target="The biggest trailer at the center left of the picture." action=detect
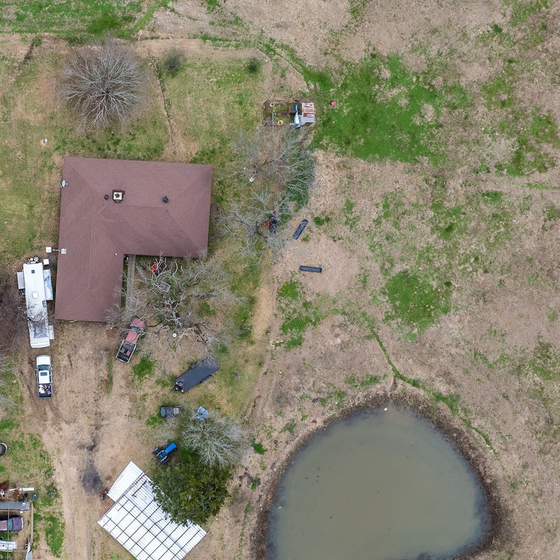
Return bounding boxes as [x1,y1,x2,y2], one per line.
[17,257,56,348]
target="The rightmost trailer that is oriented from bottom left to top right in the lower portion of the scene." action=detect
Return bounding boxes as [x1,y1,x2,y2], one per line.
[173,356,219,394]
